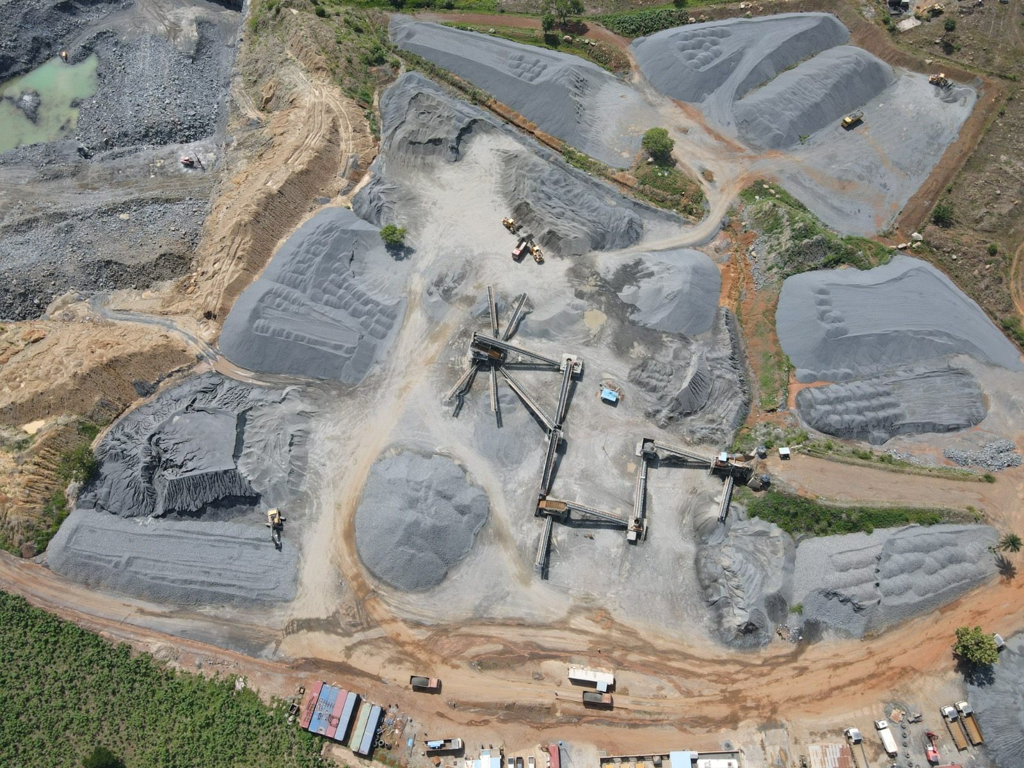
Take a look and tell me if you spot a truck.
Yes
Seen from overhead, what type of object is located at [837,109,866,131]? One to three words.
truck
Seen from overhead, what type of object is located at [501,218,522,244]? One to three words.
work vehicle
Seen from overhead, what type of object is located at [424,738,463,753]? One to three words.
vehicle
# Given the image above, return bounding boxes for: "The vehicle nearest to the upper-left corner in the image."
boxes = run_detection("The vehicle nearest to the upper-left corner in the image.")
[60,51,73,72]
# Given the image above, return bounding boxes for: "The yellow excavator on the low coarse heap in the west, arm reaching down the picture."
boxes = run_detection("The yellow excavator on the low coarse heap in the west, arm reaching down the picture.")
[264,507,282,540]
